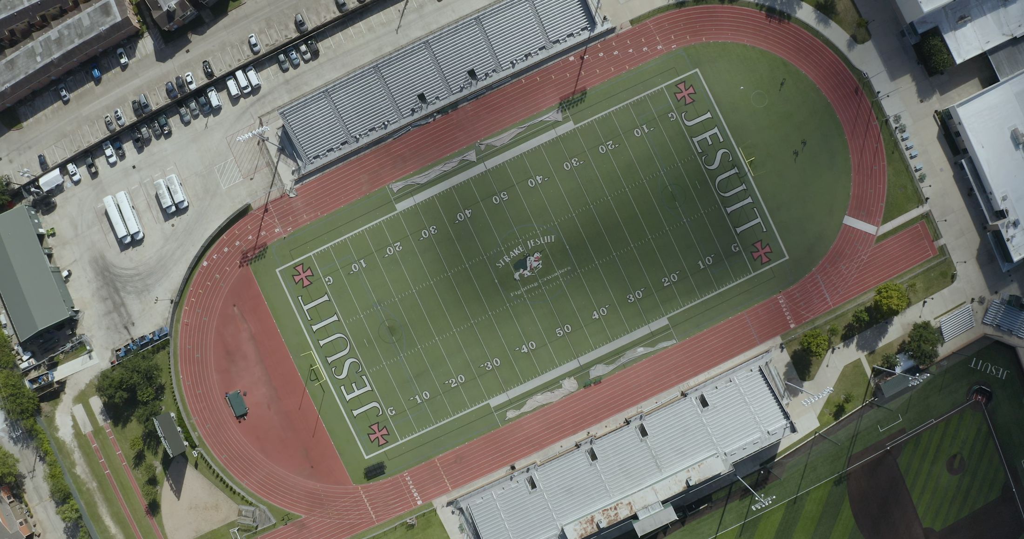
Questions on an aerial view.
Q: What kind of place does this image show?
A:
sports ground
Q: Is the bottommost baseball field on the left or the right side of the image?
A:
right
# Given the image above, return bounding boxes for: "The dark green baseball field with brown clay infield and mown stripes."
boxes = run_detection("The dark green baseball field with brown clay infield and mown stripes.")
[584,336,1024,539]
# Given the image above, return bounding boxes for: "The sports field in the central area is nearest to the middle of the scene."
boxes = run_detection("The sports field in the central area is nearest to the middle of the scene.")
[248,41,852,485]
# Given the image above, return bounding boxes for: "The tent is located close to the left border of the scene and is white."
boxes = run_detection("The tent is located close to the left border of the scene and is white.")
[39,168,70,192]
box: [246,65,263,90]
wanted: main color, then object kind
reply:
white vehicle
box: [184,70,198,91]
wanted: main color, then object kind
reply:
white car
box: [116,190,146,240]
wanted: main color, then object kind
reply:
white bus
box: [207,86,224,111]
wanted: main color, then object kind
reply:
white vehicle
